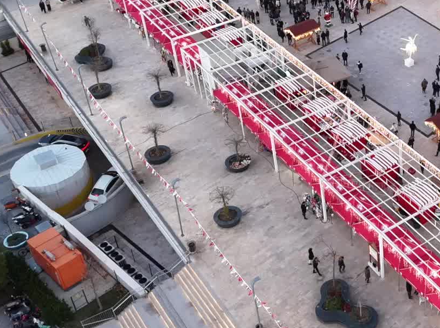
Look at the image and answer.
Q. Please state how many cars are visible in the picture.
2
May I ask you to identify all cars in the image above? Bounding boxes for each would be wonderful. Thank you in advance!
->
[91,166,122,203]
[34,125,88,151]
